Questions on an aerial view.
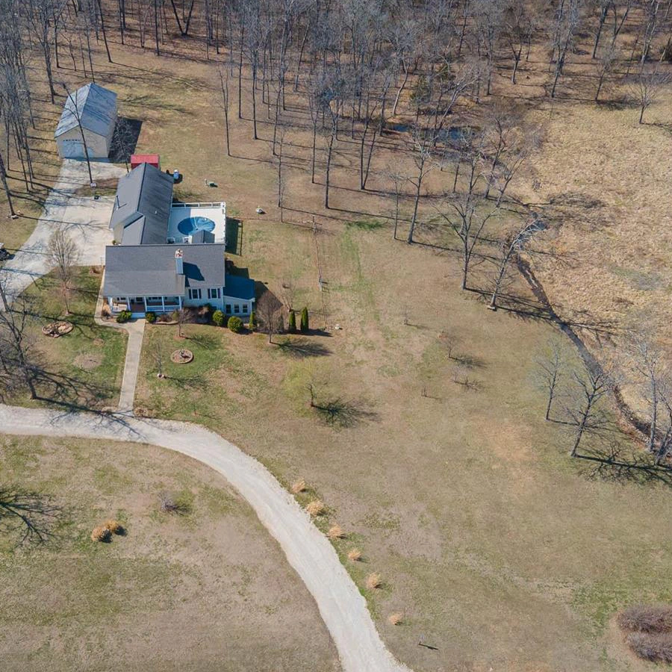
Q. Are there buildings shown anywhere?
Yes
